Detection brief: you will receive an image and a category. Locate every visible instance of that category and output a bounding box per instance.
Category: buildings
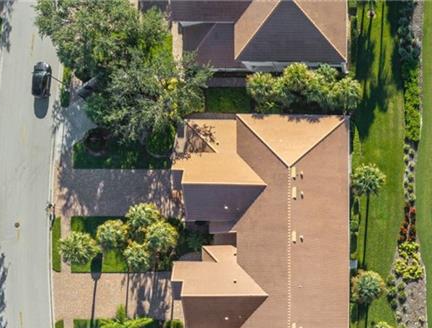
[172,114,350,328]
[167,0,348,75]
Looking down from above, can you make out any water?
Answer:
No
